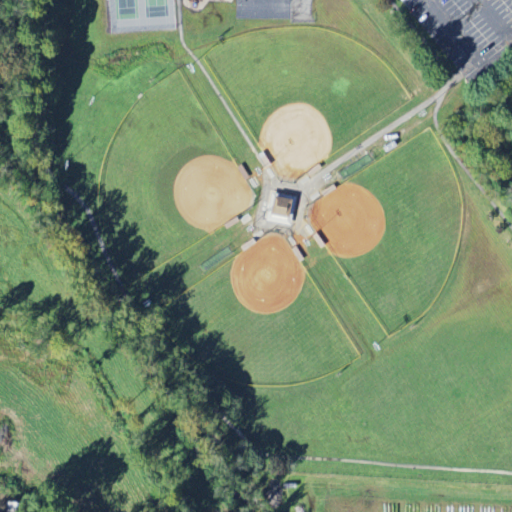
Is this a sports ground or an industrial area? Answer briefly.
sports ground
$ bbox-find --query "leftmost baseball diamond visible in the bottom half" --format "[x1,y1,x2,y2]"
[158,234,358,386]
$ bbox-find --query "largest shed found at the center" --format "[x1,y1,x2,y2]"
[266,191,298,222]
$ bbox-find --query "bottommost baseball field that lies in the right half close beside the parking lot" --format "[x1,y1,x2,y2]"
[311,129,462,336]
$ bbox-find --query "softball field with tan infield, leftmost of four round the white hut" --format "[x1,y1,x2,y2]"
[99,70,254,288]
